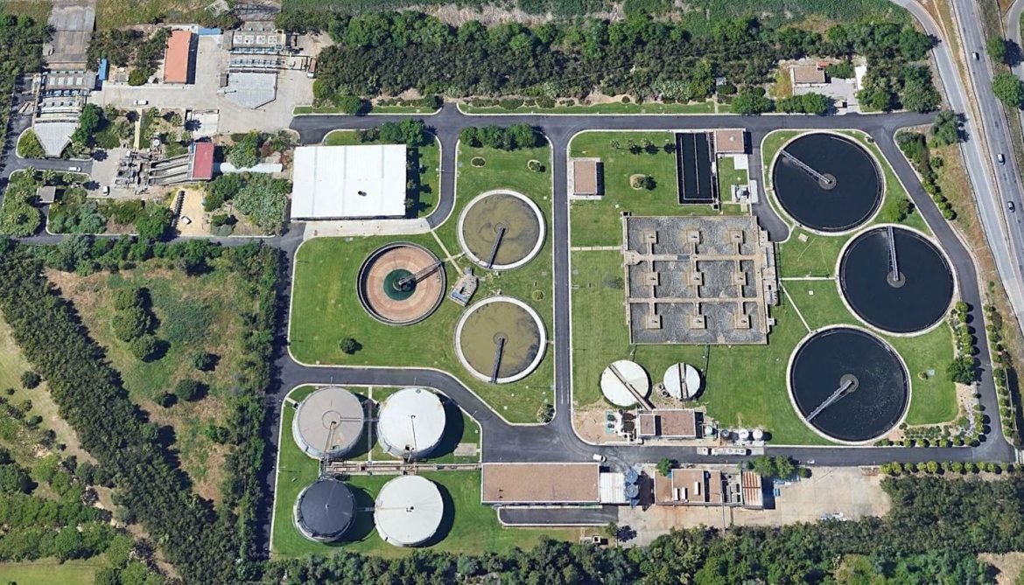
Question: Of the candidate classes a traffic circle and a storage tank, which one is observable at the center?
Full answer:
Looking at the center, you will find a storage tank.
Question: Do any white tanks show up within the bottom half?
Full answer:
Yes, you'll find a white tank within the bottom half.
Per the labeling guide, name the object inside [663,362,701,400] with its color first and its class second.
white storage tank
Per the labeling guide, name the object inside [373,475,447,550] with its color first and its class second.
white storage tank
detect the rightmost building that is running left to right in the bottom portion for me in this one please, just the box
[654,470,743,507]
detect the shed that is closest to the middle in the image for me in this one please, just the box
[574,161,597,198]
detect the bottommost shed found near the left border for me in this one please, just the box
[37,186,59,206]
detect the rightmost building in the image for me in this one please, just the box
[793,62,831,87]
